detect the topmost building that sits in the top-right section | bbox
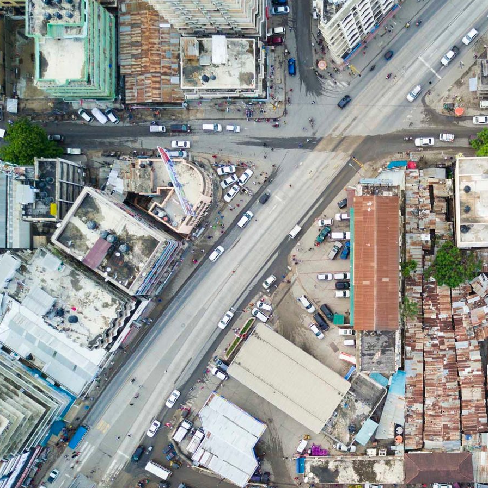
[321,0,398,63]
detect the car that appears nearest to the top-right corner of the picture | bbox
[462,27,479,45]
